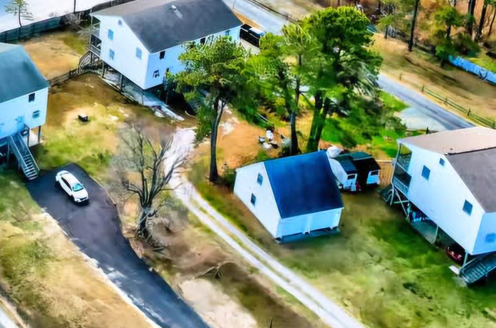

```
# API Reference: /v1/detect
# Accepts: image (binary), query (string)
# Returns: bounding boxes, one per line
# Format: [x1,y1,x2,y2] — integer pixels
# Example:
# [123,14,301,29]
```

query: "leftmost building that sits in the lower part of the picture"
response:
[231,151,348,247]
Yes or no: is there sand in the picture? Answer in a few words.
No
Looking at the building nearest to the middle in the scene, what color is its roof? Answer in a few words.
blue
